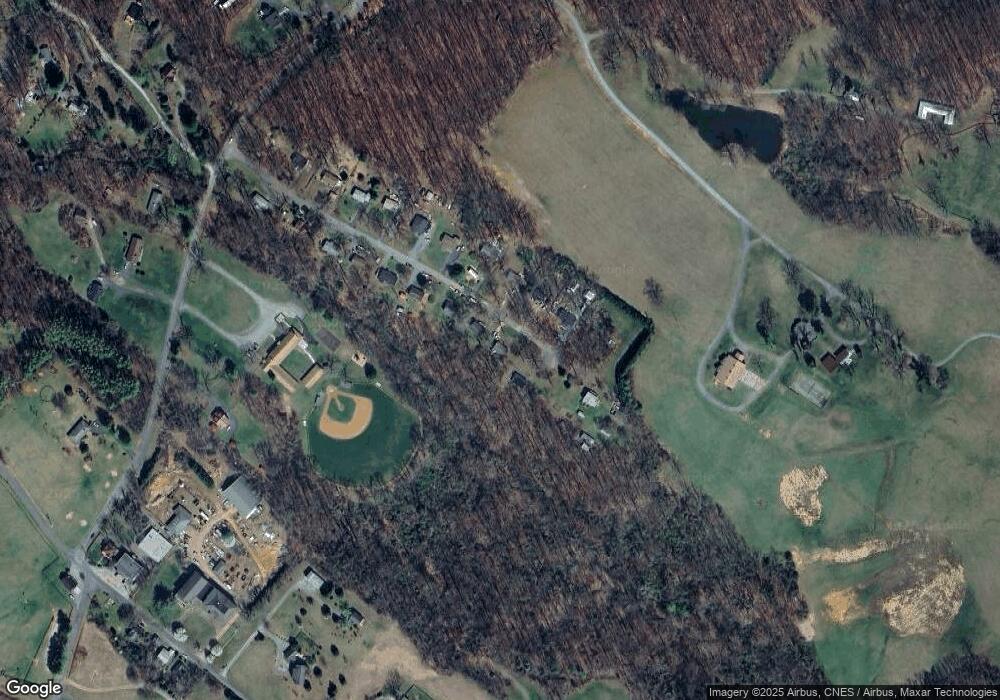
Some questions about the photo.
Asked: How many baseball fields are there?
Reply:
1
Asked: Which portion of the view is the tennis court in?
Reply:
right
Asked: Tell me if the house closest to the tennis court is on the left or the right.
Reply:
right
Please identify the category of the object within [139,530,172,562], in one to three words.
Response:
building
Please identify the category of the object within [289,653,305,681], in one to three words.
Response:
house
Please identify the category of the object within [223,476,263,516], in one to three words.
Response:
barn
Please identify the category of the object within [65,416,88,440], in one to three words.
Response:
house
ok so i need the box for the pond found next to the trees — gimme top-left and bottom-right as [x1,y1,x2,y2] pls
[666,89,784,163]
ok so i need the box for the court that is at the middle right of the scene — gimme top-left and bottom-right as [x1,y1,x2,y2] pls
[791,373,831,407]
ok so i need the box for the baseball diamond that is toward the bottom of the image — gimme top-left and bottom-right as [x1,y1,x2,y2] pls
[305,381,418,488]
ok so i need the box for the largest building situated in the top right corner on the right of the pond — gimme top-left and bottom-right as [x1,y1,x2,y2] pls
[917,100,956,126]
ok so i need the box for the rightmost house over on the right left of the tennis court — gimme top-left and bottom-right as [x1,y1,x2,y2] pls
[714,351,748,389]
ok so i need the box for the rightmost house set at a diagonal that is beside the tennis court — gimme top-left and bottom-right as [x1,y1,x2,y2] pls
[819,345,850,372]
